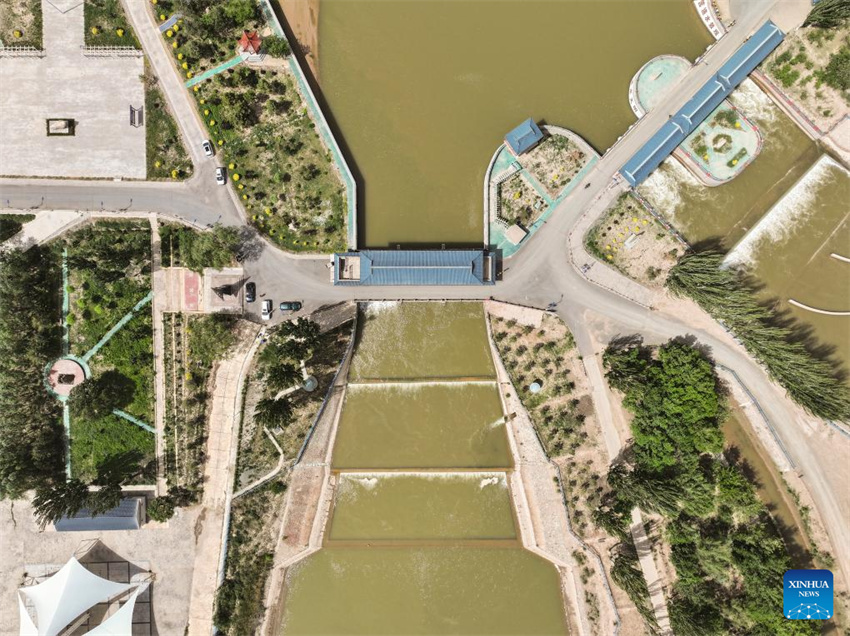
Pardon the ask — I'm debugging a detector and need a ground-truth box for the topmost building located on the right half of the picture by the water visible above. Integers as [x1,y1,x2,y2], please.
[502,117,544,161]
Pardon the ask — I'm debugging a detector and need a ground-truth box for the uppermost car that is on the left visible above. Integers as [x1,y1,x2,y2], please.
[202,138,215,158]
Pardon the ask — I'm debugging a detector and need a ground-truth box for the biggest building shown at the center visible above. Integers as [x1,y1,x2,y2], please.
[330,250,496,286]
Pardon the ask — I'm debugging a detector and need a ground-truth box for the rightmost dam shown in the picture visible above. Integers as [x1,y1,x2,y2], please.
[732,154,830,260]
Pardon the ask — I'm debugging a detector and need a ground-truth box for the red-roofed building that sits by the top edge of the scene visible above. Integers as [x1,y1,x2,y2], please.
[237,30,264,61]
